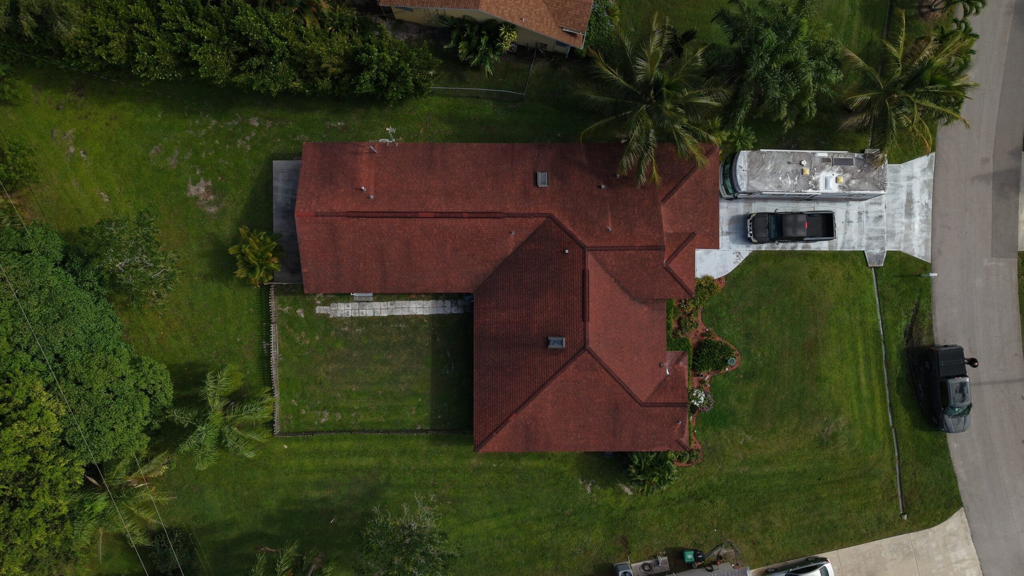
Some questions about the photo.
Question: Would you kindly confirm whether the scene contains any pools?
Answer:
No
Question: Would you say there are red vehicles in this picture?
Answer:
No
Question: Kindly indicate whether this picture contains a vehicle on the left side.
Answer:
No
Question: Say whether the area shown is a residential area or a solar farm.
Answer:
residential area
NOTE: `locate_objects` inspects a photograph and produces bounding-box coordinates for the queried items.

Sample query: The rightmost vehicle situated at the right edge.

[926,342,979,436]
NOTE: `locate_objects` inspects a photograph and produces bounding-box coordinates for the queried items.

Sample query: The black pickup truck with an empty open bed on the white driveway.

[743,205,837,248]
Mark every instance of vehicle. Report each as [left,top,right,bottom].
[926,342,979,436]
[720,147,890,202]
[758,556,838,576]
[743,205,837,248]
